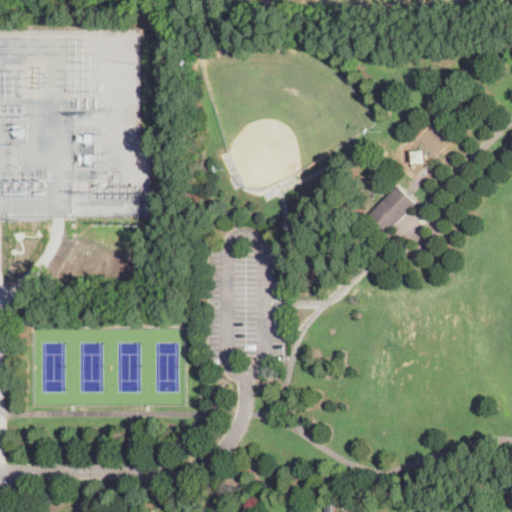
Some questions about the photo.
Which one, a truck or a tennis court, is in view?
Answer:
tennis court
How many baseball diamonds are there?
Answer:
1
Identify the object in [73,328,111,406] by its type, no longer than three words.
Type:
tennis court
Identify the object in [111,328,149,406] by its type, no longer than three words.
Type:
tennis court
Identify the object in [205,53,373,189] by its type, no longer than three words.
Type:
baseball field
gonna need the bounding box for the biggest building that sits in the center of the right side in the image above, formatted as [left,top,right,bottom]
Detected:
[368,187,414,230]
